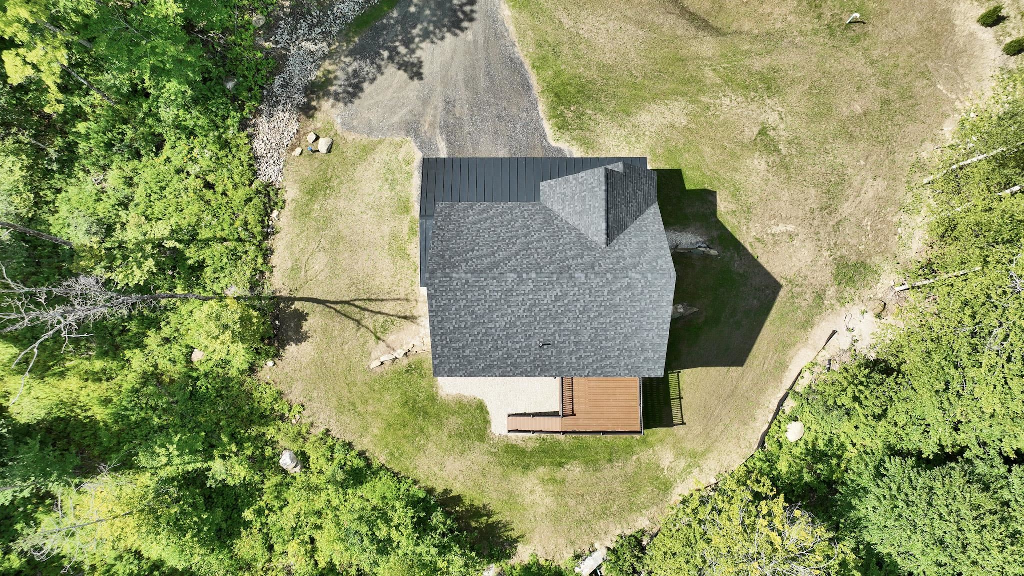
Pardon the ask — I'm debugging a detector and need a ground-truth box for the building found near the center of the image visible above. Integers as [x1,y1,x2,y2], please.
[420,157,678,379]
